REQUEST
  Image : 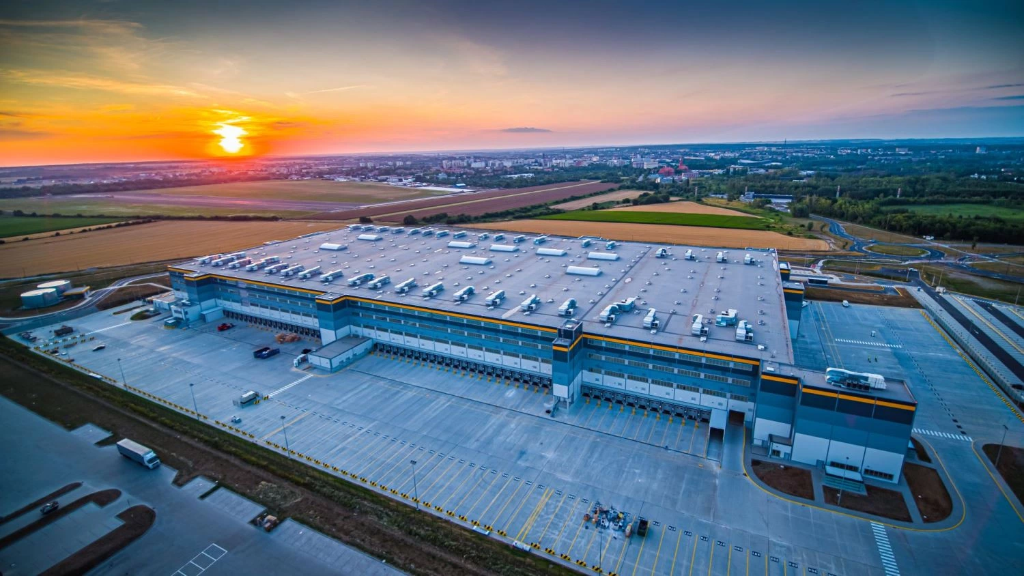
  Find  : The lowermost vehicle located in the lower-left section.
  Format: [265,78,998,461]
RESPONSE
[32,501,63,515]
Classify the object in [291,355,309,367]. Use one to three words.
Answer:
vehicle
